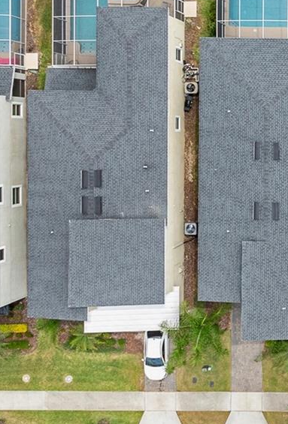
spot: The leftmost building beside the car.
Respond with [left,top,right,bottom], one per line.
[25,6,186,335]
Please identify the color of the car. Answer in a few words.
white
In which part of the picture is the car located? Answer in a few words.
bottom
